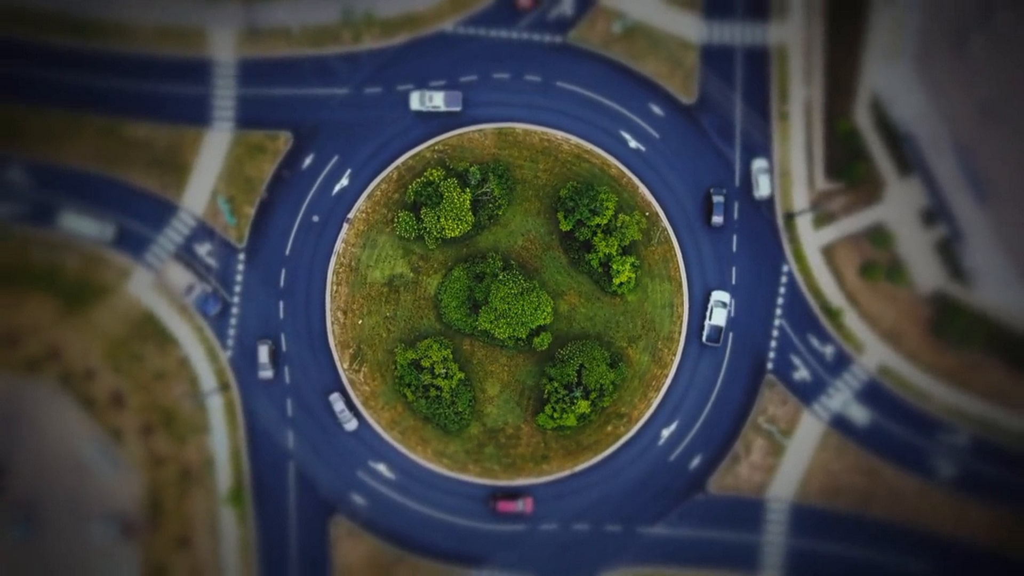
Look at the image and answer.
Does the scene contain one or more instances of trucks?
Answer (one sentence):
Yes, a truck is visible in the scene.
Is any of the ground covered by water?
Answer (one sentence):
No, no water is visible.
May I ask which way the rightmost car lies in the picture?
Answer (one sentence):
What the image shows is the rightmost car lying on a diagonal.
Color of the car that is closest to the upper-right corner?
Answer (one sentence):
The color of the car that is closest to the upper-right corner is white.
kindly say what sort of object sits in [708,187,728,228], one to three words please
car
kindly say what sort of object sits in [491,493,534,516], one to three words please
car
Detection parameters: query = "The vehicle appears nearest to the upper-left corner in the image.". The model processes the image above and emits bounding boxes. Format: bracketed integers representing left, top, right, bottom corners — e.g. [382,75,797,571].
[53,209,130,244]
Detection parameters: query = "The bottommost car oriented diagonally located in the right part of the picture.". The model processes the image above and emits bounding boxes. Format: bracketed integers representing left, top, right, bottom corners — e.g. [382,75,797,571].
[827,391,872,428]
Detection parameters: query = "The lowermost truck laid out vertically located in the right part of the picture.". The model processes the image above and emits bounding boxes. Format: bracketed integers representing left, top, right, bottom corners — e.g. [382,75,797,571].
[701,290,731,348]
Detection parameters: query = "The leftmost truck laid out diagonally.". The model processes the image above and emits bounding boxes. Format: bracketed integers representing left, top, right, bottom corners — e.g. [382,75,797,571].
[153,255,232,319]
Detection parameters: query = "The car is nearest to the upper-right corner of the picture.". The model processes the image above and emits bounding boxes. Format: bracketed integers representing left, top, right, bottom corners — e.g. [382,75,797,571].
[748,157,773,202]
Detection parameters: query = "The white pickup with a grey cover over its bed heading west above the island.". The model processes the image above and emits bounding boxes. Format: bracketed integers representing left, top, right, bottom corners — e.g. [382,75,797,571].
[409,88,464,114]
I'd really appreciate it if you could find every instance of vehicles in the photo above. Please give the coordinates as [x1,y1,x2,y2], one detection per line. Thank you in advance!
[53,209,130,244]
[701,290,731,348]
[327,390,360,433]
[827,391,872,428]
[254,339,277,380]
[491,493,534,516]
[748,157,773,202]
[708,187,728,228]
[409,88,464,114]
[153,255,232,319]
